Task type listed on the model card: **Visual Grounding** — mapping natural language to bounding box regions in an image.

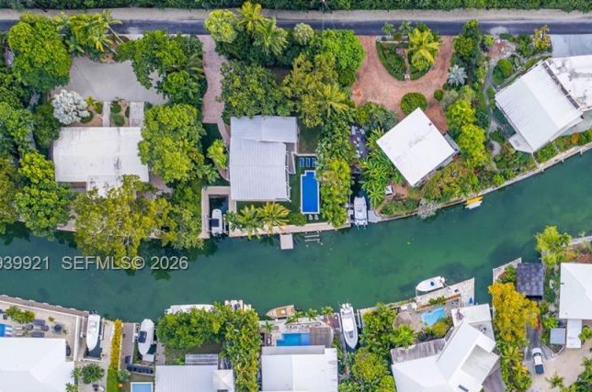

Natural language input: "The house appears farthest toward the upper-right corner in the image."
[495,54,592,152]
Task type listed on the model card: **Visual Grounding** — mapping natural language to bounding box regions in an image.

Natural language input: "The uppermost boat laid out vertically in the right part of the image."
[354,197,368,226]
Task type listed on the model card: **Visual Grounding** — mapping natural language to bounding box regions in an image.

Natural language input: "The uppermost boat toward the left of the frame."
[208,208,223,237]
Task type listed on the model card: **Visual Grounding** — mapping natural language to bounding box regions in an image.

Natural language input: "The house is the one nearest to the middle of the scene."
[228,115,303,202]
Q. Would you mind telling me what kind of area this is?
residential area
